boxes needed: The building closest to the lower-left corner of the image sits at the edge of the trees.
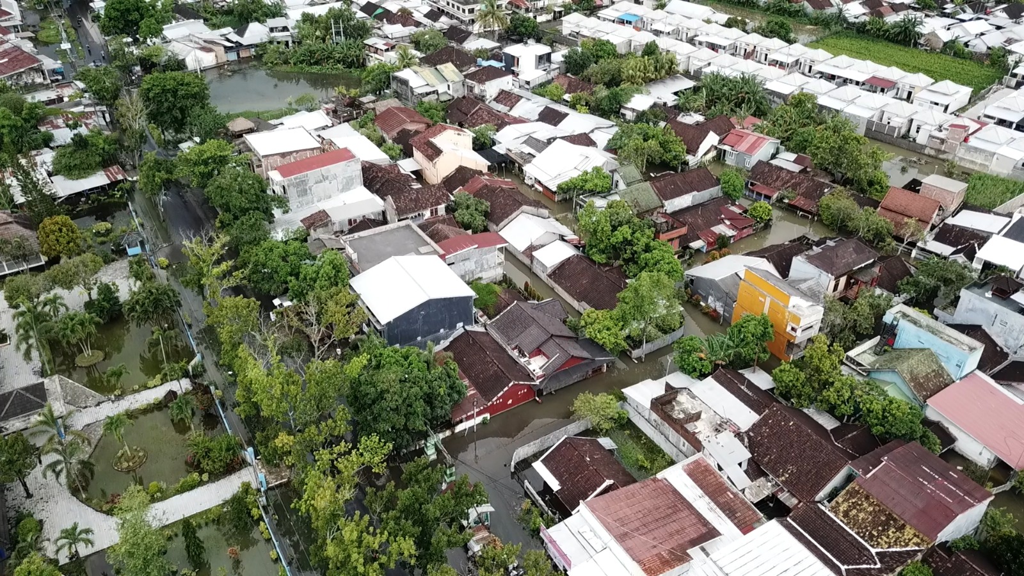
[0,375,108,438]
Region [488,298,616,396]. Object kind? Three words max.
house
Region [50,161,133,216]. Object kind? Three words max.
shed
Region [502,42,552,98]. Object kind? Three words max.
house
